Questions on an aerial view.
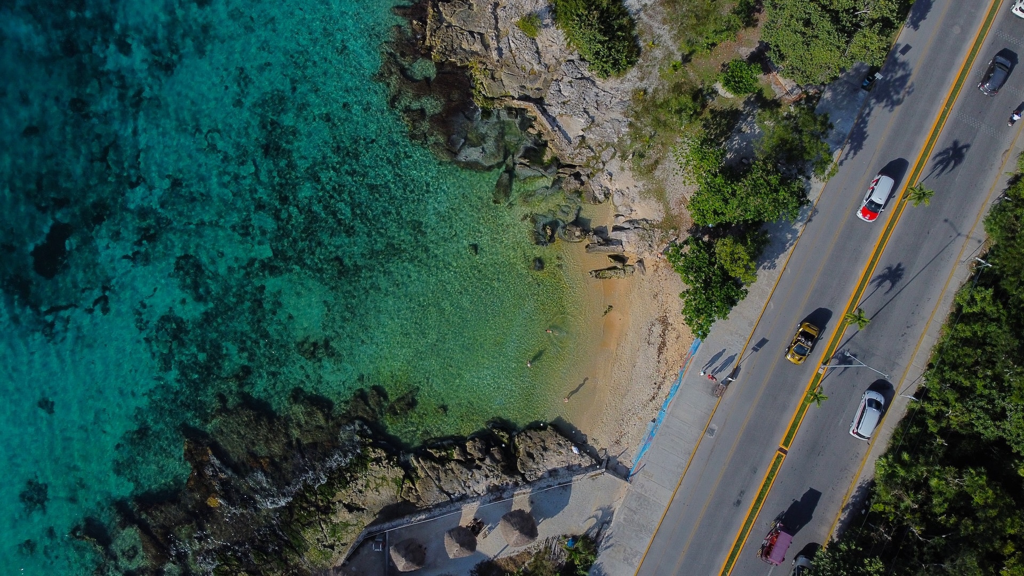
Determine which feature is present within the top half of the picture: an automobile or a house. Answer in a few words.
automobile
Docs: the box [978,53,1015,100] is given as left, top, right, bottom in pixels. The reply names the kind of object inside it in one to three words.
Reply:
car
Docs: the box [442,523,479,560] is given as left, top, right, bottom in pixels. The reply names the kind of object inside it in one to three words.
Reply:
umbrella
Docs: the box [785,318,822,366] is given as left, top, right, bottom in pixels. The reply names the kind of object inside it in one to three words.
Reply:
car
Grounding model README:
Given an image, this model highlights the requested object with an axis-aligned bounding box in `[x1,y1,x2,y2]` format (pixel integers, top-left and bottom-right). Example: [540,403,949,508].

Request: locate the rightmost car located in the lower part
[850,393,886,444]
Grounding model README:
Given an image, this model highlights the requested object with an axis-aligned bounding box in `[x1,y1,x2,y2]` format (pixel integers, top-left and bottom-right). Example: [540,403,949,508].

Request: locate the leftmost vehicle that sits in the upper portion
[859,172,900,224]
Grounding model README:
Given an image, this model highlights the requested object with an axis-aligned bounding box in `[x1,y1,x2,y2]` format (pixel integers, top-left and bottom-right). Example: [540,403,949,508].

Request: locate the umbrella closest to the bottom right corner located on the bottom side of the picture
[498,507,539,548]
